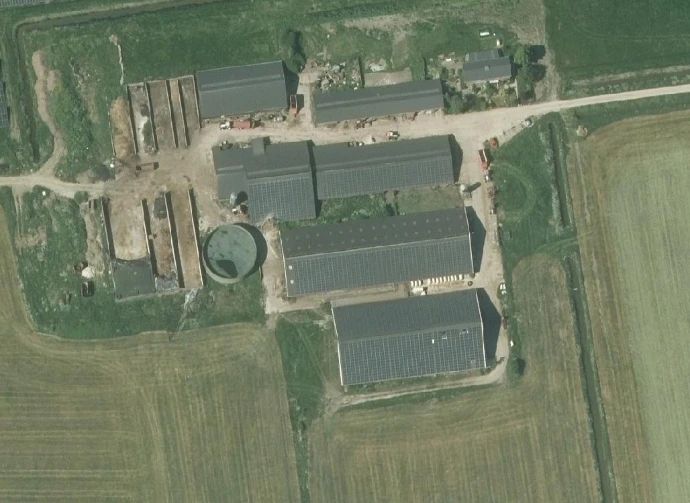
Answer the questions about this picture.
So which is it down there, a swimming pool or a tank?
tank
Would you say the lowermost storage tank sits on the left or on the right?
left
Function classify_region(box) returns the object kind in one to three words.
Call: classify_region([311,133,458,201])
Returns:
barn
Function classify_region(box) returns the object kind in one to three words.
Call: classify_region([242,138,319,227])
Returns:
barn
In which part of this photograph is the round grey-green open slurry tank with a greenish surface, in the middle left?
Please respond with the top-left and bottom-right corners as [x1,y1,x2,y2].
[201,224,258,281]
